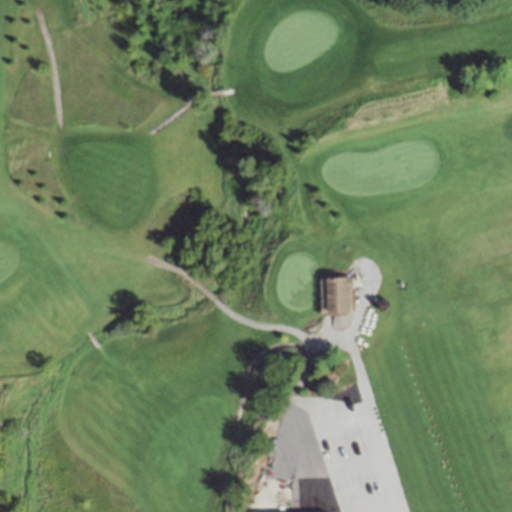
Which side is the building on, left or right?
right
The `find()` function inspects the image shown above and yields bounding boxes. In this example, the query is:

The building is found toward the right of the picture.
[320,278,354,328]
